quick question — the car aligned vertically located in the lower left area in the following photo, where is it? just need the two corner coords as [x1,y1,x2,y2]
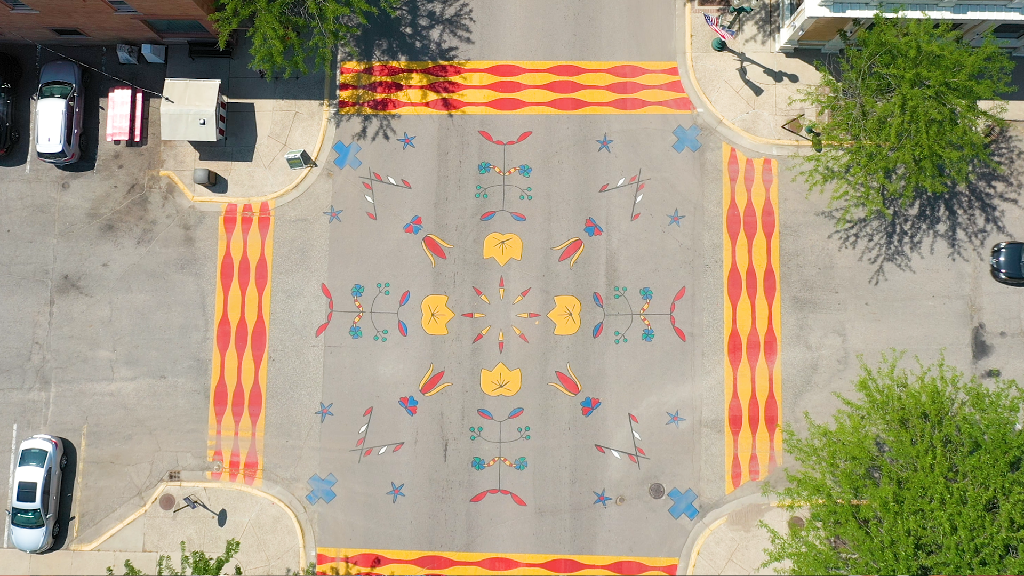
[3,430,69,552]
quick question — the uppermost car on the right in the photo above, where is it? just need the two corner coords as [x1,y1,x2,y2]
[987,242,1024,285]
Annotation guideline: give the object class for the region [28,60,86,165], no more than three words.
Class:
car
